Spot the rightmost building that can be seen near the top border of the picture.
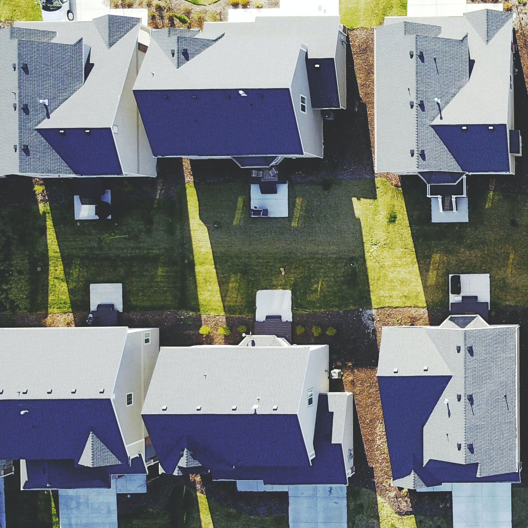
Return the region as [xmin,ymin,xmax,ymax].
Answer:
[374,9,525,185]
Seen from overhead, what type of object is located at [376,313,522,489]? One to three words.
house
